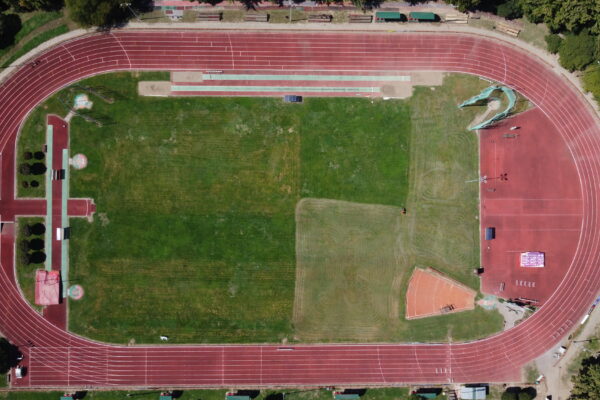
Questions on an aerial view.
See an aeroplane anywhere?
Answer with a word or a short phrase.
No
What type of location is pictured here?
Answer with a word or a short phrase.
sports ground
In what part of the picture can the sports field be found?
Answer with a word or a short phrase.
center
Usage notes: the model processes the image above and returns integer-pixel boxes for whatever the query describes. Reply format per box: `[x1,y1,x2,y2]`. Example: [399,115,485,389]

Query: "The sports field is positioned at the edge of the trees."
[15,70,536,344]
